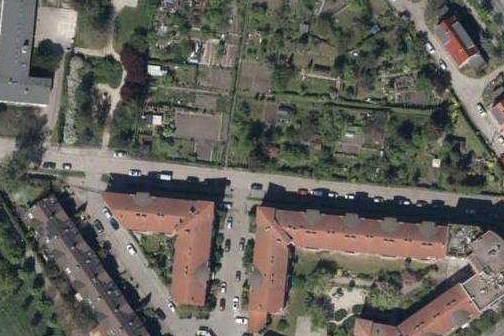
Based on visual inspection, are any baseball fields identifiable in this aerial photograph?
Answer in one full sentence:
No, there's no baseball field here.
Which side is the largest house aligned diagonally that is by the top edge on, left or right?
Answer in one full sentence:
You can find the largest house aligned diagonally that is by the top edge on the right side of the picture.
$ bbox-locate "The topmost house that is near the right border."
[435,15,486,76]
